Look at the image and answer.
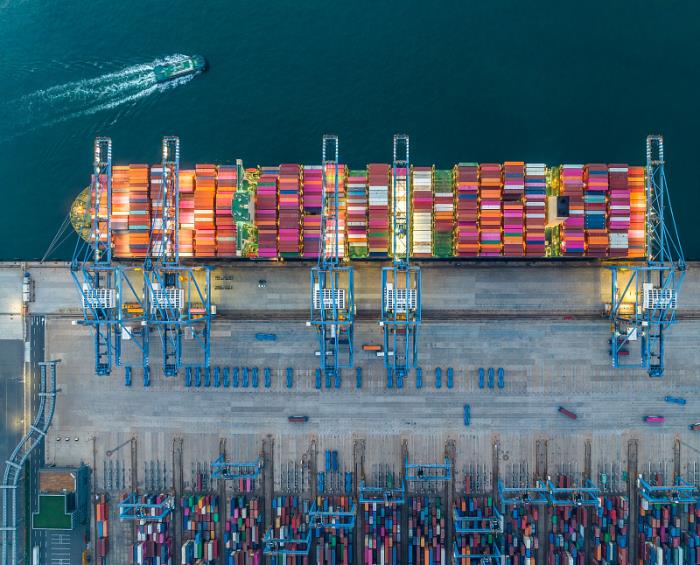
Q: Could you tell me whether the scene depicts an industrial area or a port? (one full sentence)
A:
This image shows a port.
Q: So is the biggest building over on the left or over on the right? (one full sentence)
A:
You can find the biggest building on the left side of the picture.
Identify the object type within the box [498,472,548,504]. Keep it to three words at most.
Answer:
crane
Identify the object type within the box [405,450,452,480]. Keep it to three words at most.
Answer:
crane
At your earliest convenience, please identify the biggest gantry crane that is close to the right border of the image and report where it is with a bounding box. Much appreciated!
[597,128,691,376]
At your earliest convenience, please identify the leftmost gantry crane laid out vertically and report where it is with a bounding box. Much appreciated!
[70,128,163,376]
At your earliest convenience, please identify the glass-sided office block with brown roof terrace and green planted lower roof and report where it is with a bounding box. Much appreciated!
[32,463,90,529]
